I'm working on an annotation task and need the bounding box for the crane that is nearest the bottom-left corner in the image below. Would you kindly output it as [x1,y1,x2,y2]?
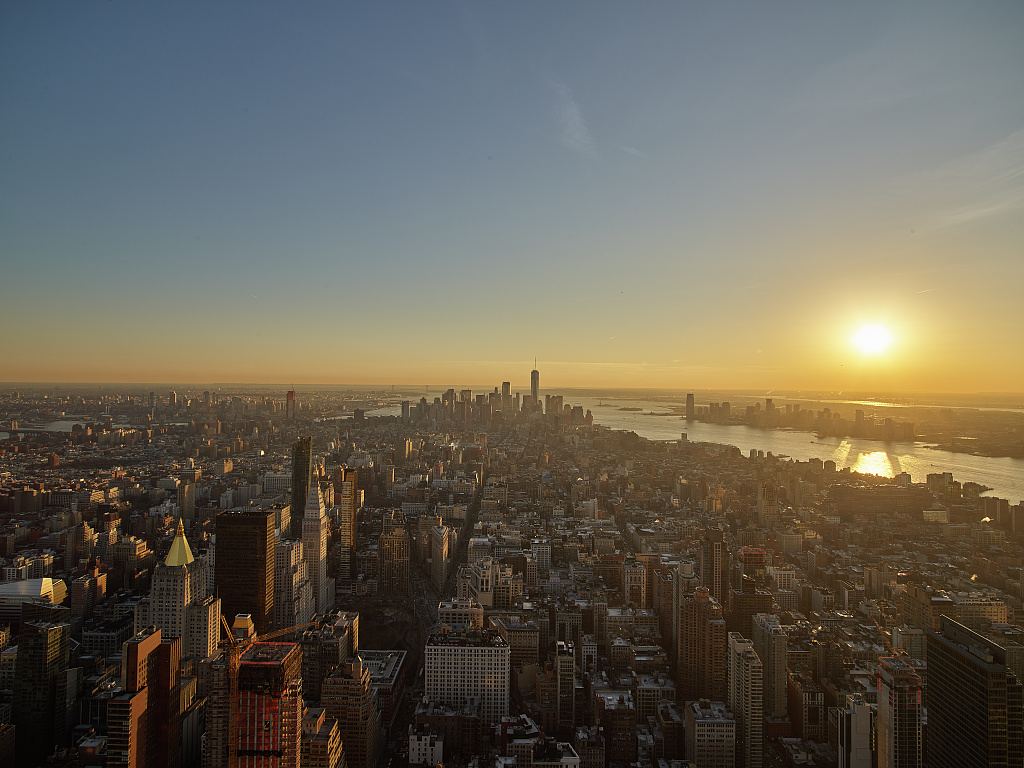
[215,616,316,768]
